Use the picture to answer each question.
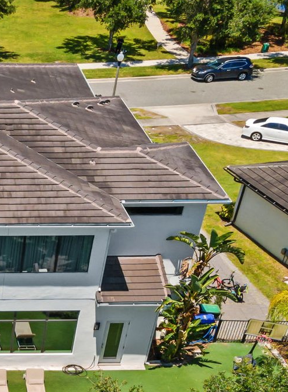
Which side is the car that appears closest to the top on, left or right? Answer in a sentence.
The car that appears closest to the top is on the right side of the image.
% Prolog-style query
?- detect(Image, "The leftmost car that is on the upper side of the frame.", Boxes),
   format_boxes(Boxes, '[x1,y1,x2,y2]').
[186,48,256,80]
